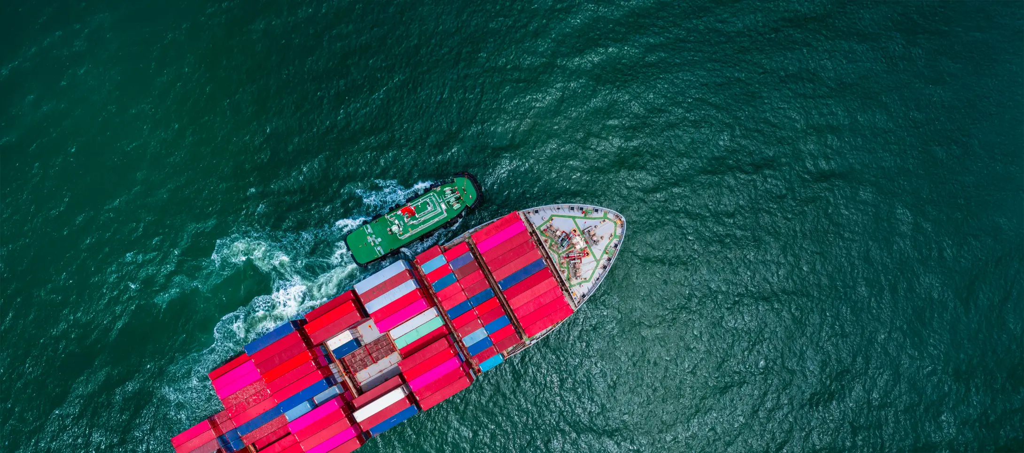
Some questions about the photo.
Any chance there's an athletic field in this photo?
No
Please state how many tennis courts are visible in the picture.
0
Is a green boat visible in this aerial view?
Yes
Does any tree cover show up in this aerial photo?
No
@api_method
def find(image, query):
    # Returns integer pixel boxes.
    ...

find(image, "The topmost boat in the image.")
[345,172,483,268]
